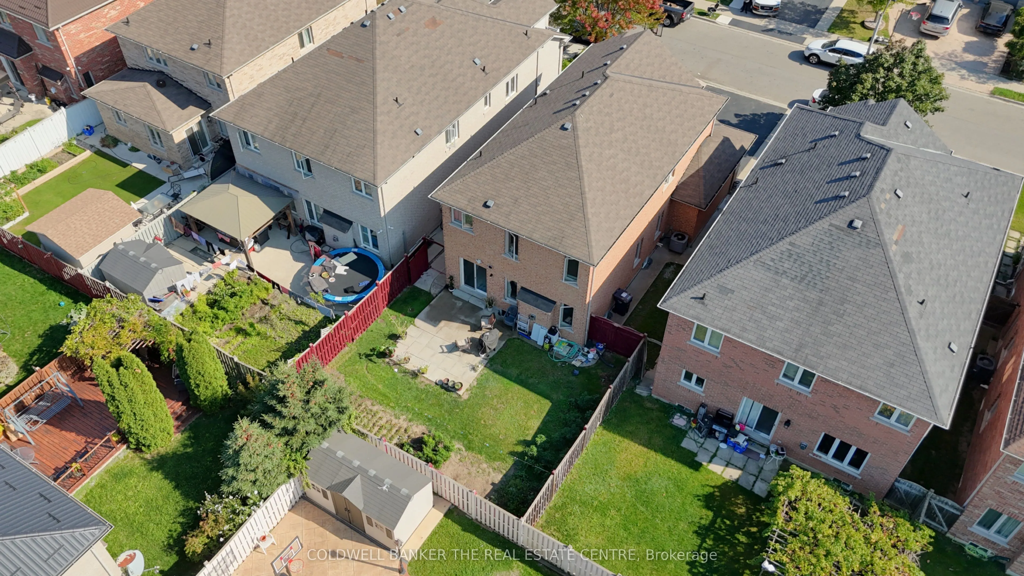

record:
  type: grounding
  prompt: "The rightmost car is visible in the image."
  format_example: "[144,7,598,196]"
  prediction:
[980,1,1021,38]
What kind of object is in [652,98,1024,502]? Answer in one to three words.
house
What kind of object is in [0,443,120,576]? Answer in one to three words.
house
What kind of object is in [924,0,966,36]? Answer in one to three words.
car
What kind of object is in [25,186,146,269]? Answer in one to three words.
shed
